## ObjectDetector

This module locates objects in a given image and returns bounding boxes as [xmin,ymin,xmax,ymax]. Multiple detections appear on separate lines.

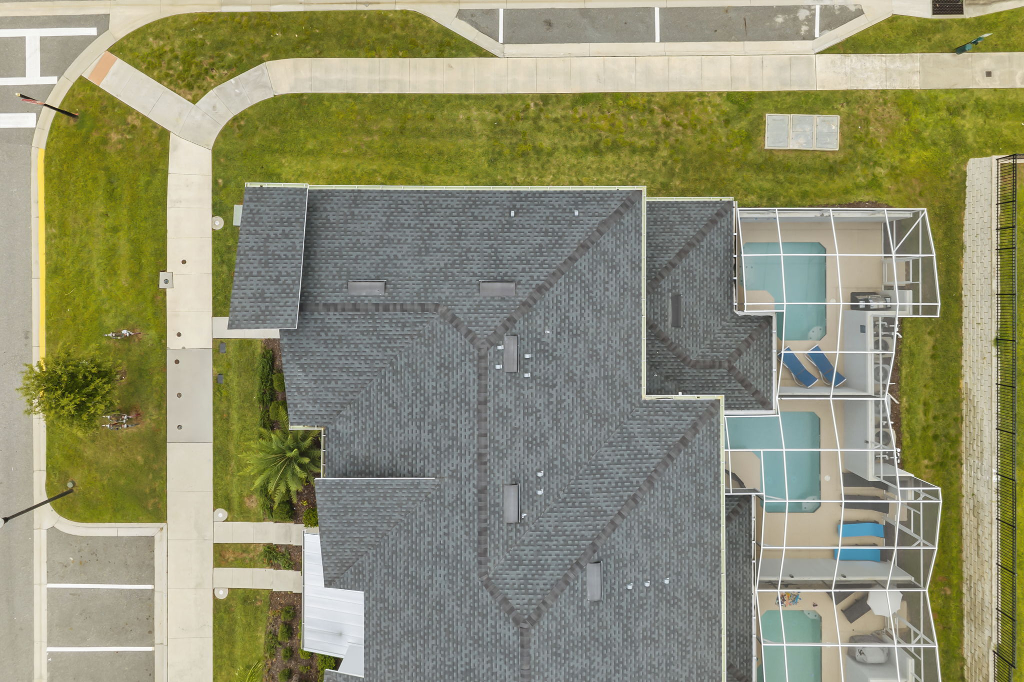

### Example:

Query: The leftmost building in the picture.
[228,183,780,682]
